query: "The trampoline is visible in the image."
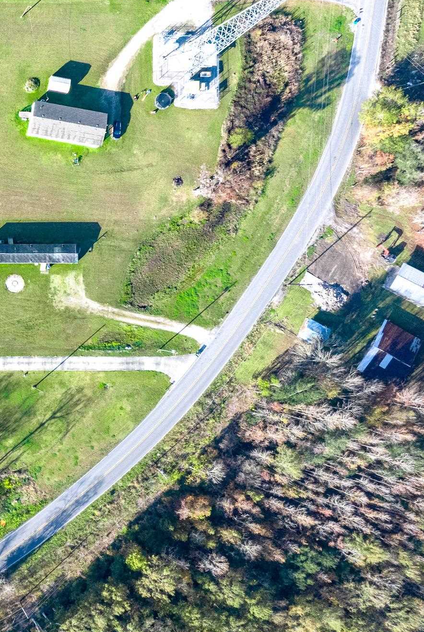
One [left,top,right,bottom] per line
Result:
[156,90,176,108]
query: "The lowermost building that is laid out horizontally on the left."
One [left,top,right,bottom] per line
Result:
[0,236,78,274]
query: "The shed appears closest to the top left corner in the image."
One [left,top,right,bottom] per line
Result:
[46,77,71,96]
